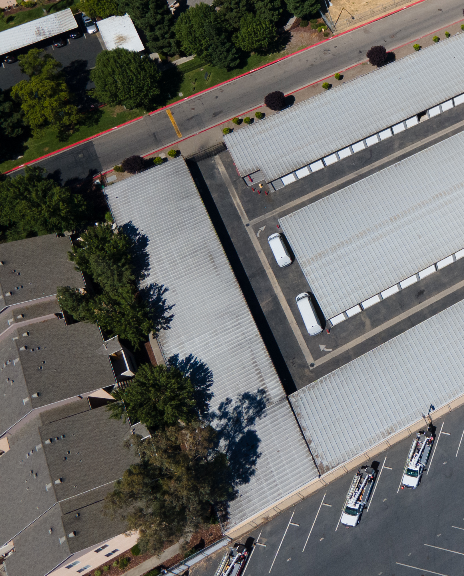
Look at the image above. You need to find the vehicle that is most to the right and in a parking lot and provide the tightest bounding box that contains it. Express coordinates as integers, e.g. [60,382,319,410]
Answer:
[400,428,439,498]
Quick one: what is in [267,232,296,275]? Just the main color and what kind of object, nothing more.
white van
